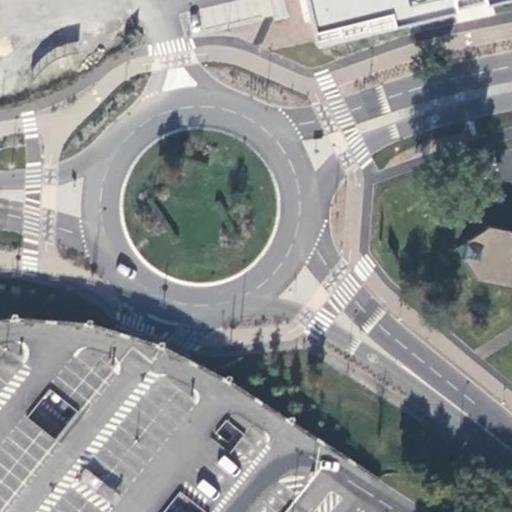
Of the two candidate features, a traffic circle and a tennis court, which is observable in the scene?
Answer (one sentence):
Visible in the photo is a traffic circle.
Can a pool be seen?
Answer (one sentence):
No, there is no pool in the image.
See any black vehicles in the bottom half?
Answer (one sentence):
No, I can find no black vehicle in the bottom half.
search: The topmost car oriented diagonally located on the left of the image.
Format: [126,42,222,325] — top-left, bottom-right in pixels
[117,262,137,280]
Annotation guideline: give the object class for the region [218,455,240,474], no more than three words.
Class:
vehicle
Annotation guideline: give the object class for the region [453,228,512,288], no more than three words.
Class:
house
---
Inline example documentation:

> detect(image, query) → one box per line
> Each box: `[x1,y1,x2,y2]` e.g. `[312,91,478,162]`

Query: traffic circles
[80,86,321,328]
